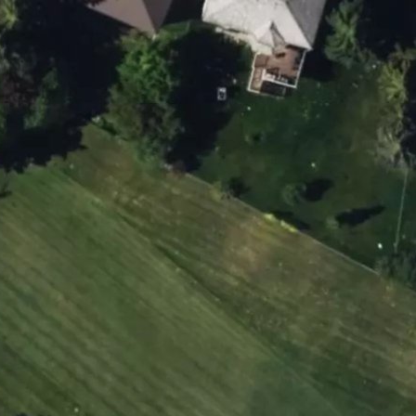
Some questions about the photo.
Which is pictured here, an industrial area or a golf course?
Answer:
golf course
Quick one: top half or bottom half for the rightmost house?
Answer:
top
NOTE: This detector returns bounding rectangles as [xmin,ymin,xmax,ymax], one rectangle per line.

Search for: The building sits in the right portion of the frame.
[202,0,324,93]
